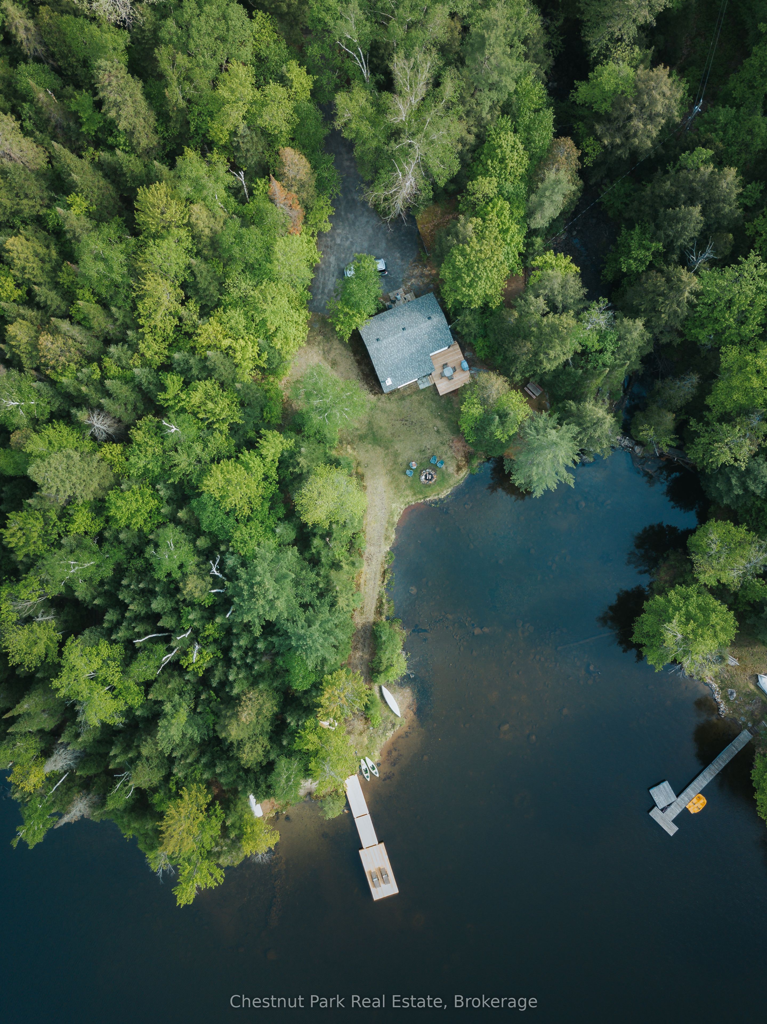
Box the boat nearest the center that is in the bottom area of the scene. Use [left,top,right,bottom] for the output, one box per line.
[381,685,401,718]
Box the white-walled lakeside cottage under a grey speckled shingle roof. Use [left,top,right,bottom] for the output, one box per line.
[360,292,454,394]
